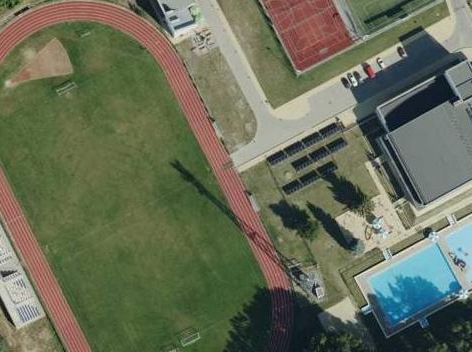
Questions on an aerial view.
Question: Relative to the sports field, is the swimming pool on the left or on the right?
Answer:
on the right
